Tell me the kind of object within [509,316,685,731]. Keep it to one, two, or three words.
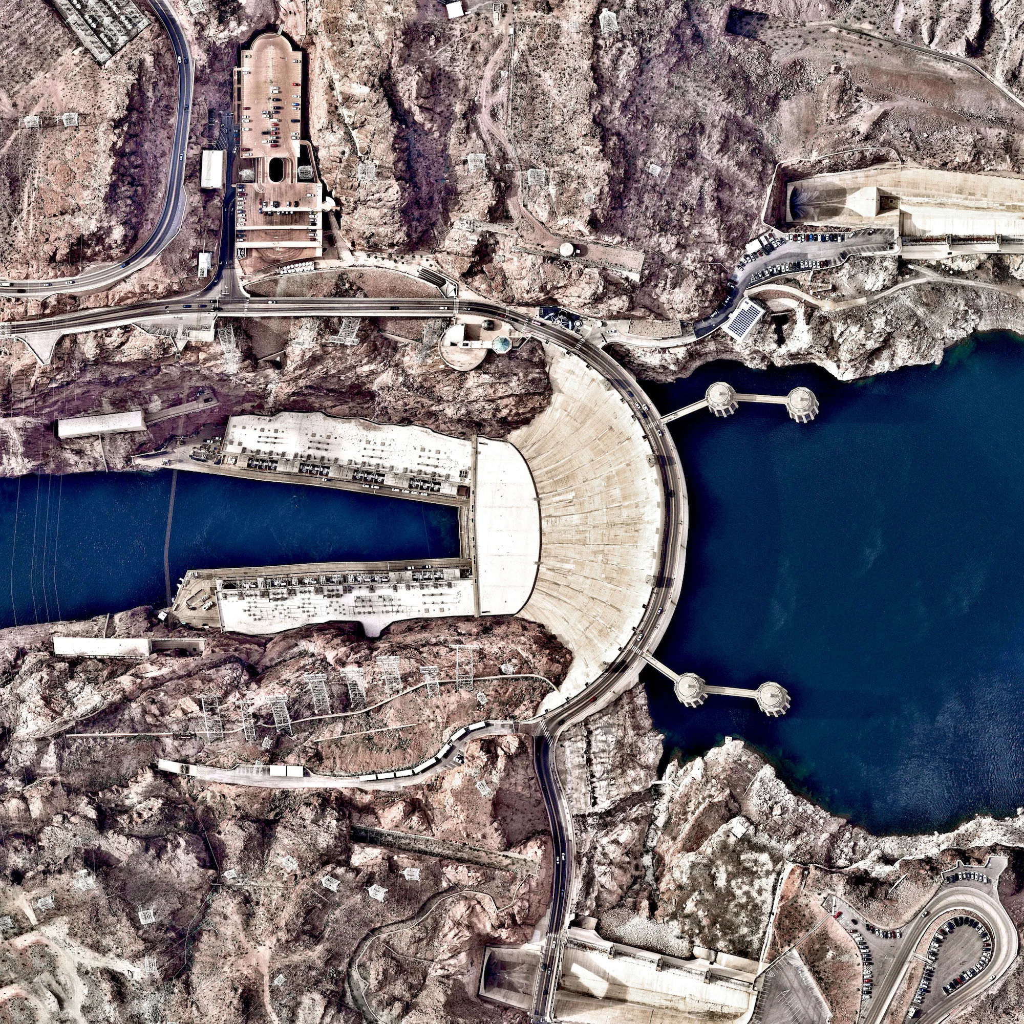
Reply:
dam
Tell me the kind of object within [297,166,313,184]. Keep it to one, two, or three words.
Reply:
pylon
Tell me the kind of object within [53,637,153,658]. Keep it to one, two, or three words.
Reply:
building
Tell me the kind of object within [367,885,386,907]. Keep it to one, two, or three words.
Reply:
pylon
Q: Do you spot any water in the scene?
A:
Yes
